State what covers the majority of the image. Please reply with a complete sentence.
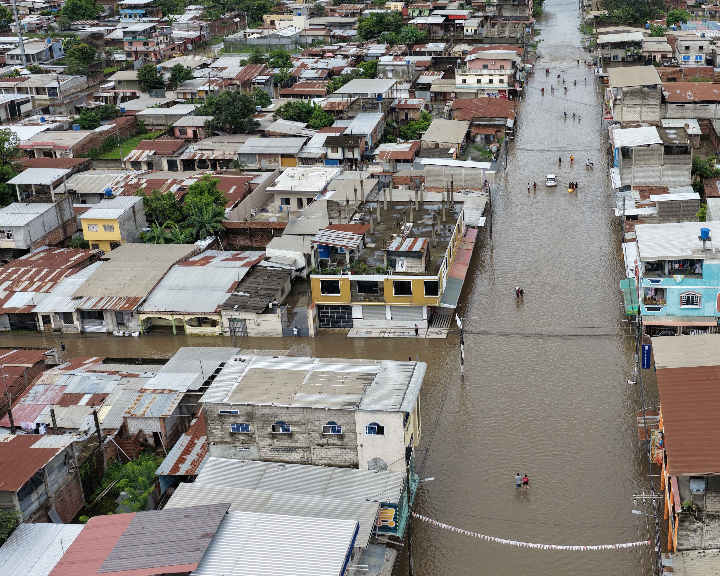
What you mostly see from above here is buildings.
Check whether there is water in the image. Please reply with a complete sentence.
Yes, water can be seen from above here.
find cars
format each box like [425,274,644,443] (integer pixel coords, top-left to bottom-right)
[545,173,558,186]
